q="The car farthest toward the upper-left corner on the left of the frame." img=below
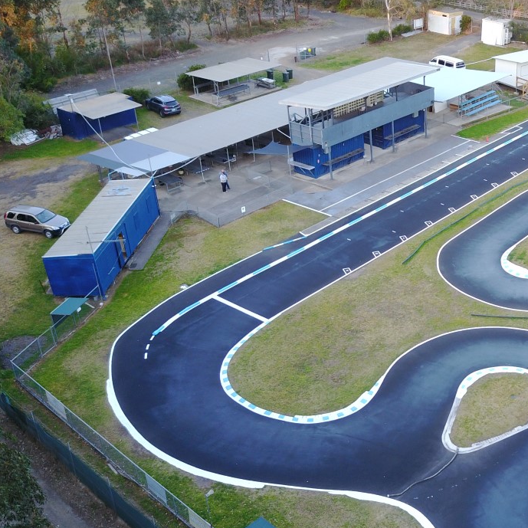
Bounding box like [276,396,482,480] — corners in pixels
[139,94,183,117]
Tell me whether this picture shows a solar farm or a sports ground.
sports ground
